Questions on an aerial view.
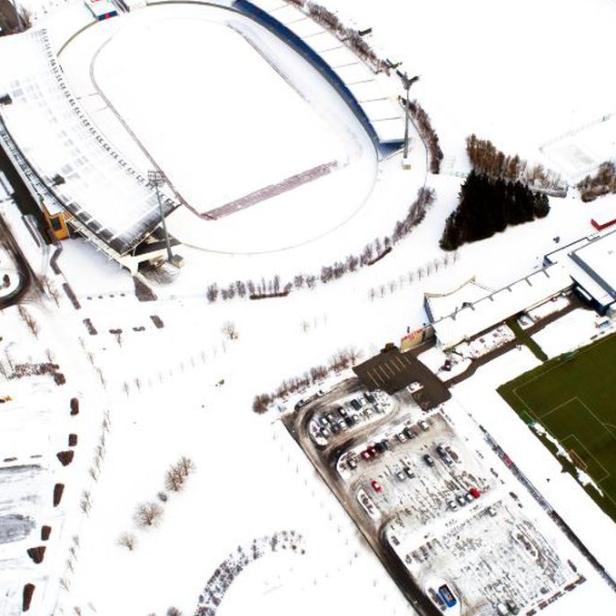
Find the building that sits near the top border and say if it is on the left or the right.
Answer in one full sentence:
It is on the left.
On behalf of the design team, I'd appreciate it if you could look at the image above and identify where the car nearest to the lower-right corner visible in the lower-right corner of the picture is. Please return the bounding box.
[536,583,551,598]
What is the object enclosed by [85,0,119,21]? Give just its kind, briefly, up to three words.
building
